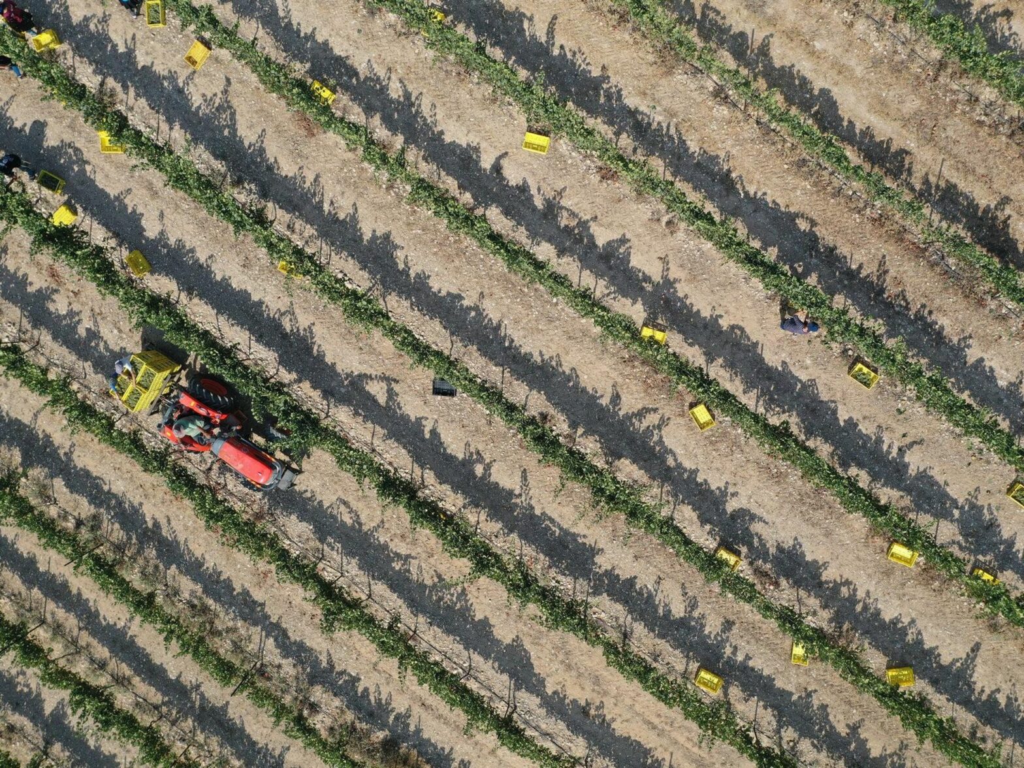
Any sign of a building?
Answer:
No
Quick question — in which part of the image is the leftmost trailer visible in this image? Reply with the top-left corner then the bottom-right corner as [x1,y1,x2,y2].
[141,341,189,416]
